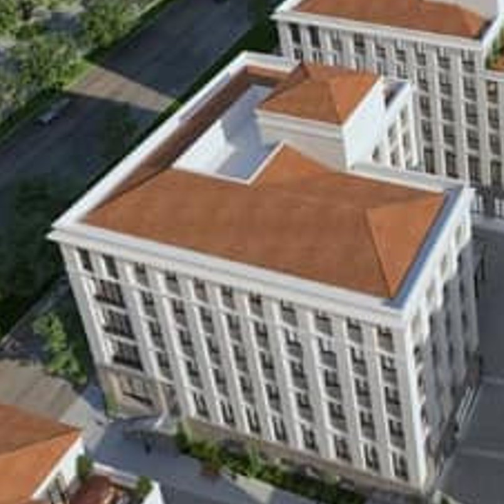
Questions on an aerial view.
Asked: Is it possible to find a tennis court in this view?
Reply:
No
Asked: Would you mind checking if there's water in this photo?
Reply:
No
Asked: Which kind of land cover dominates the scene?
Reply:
buildings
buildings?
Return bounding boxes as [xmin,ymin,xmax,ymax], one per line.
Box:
[48,52,478,485]
[0,421,162,504]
